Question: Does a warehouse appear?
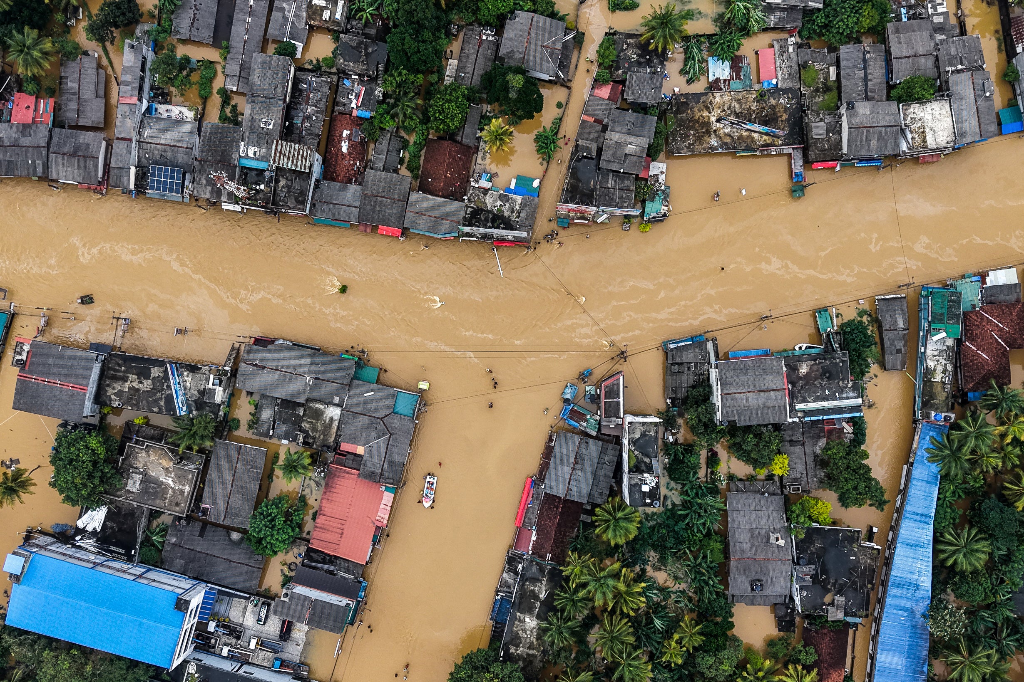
Yes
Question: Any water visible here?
Yes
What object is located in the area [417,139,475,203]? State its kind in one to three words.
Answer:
house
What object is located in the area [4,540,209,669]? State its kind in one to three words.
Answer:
warehouse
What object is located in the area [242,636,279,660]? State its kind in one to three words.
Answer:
truck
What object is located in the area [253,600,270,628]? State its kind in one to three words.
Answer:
vehicle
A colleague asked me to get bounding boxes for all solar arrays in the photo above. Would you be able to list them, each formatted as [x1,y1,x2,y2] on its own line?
[148,164,185,194]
